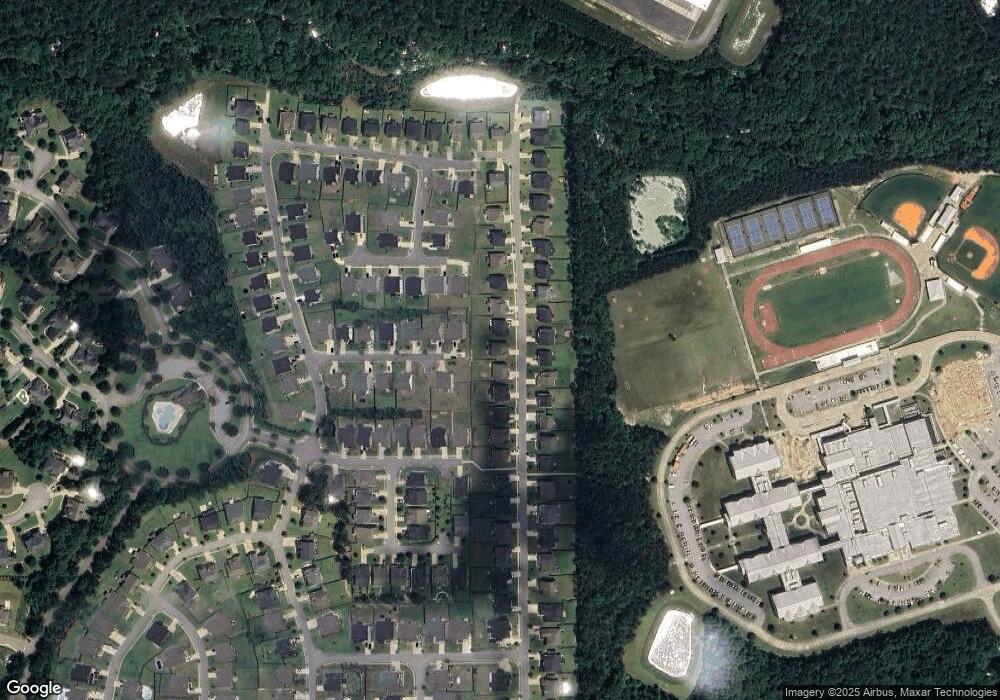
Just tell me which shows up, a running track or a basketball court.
running track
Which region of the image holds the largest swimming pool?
left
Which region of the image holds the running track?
right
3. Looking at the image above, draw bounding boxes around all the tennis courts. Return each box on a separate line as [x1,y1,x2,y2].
[816,196,835,225]
[798,201,817,229]
[764,212,783,240]
[745,218,764,246]
[727,225,746,253]
[781,207,800,235]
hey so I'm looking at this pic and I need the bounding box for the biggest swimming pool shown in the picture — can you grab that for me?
[152,401,184,433]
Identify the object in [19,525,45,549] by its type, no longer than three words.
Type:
house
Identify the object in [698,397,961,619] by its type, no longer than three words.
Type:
building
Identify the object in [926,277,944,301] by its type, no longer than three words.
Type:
shed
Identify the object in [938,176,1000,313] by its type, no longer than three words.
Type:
baseball field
